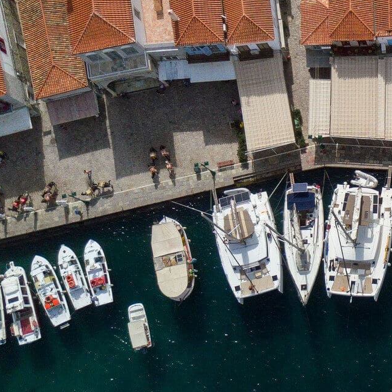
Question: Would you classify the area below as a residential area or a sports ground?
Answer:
residential area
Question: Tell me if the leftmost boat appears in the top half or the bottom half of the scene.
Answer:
bottom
